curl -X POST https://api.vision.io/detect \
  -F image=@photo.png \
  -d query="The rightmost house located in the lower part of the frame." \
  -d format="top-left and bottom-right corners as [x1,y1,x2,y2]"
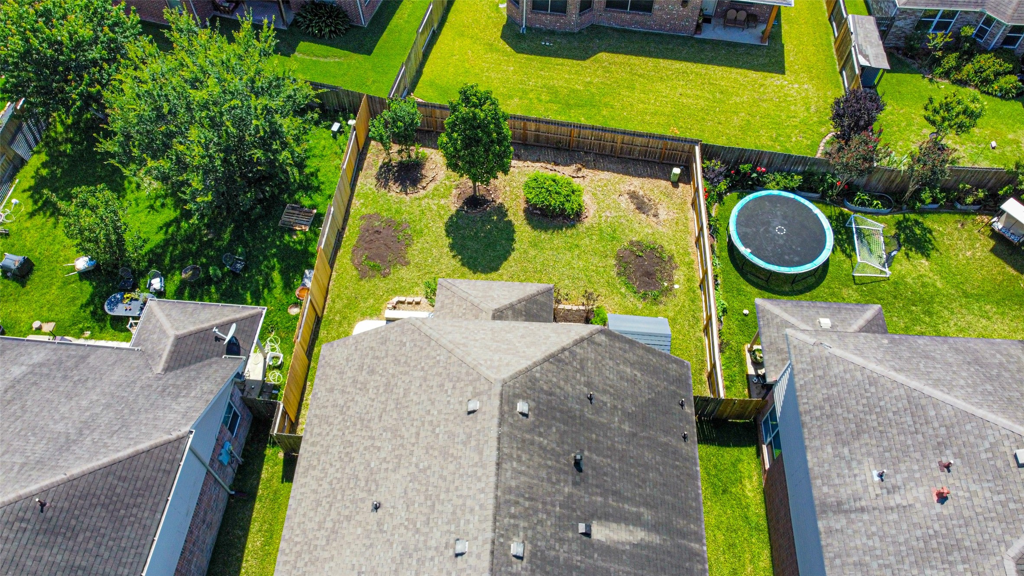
[747,298,1024,576]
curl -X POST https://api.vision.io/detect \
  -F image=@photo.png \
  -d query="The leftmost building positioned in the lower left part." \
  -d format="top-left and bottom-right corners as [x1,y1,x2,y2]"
[0,296,271,576]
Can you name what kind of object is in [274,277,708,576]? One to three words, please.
house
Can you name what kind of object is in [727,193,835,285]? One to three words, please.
trampoline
